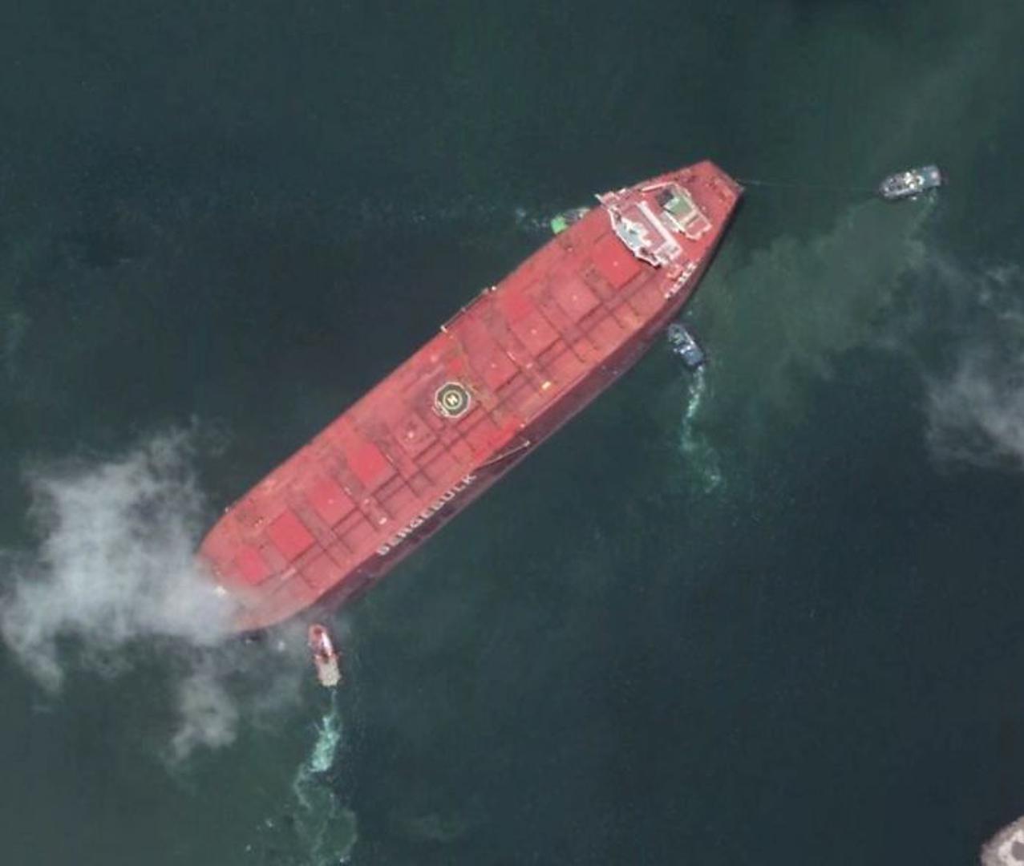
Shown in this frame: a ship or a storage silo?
ship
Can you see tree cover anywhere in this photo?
No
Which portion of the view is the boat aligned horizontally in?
top right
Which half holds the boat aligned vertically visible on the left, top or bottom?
bottom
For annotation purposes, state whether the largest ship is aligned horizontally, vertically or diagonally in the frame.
diagonally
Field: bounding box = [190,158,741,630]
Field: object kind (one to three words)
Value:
ship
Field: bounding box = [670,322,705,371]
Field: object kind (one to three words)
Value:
boat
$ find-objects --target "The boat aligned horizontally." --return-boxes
[879,168,943,198]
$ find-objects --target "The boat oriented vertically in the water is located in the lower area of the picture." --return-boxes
[308,623,341,690]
